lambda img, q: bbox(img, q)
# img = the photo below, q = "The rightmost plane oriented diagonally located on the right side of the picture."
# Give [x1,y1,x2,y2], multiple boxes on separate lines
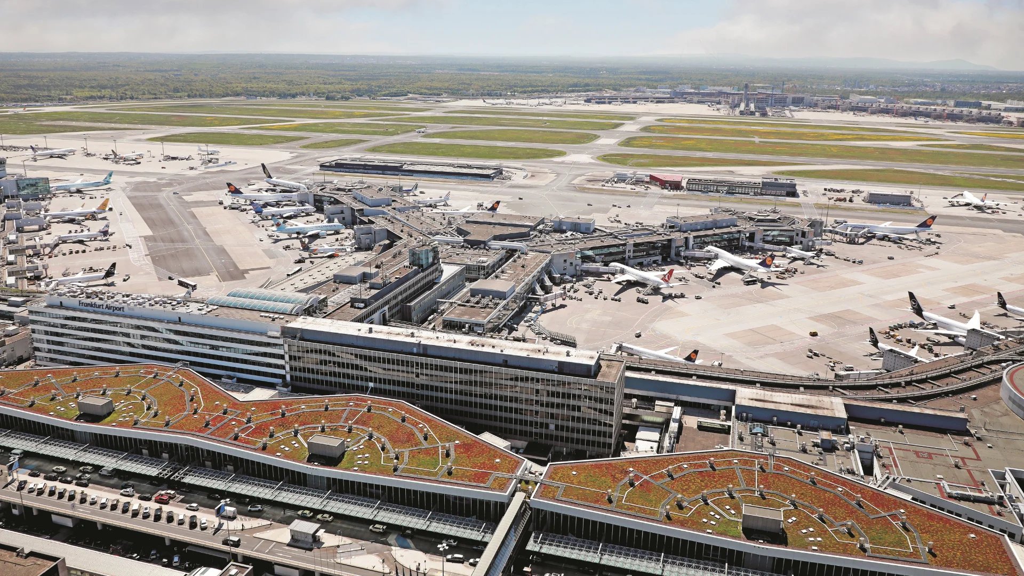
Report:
[993,292,1024,321]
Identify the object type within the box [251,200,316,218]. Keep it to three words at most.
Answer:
airplane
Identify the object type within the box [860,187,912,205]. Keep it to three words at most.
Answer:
building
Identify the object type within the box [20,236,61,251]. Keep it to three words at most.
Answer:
jet bridge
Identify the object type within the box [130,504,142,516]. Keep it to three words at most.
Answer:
vehicle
